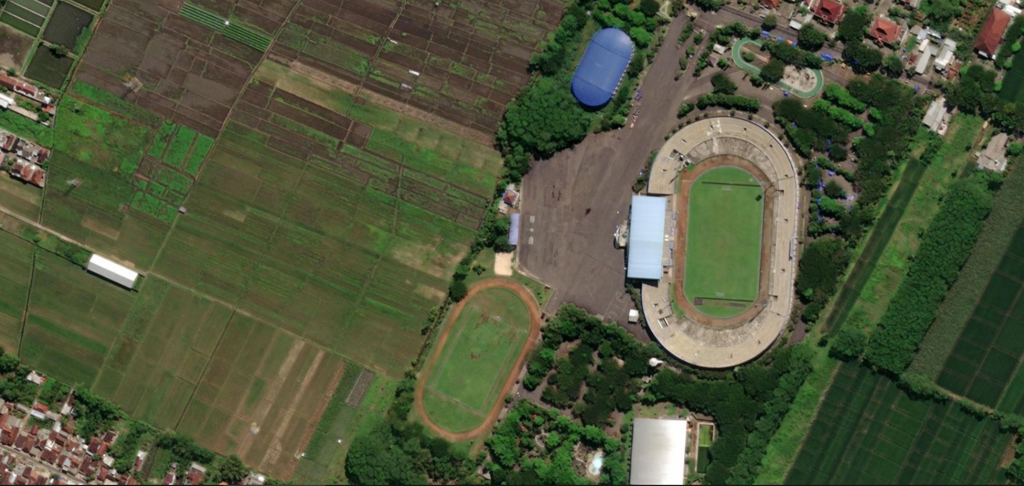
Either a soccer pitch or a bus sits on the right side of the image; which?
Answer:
soccer pitch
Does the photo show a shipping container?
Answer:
No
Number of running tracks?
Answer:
2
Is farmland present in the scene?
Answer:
Yes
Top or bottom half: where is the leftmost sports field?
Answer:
bottom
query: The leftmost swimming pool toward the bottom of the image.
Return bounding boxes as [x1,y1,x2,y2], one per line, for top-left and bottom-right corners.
[585,448,606,479]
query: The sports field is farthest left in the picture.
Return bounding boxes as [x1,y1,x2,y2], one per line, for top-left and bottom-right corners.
[422,288,531,433]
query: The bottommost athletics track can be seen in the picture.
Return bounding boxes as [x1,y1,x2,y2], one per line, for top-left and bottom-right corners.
[416,277,541,442]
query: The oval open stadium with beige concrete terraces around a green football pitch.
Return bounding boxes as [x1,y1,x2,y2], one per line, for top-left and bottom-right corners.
[640,115,801,368]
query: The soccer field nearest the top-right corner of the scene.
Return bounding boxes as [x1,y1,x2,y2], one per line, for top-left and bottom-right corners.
[684,166,763,318]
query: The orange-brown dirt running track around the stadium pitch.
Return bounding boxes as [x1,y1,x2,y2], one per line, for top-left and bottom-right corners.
[670,155,773,331]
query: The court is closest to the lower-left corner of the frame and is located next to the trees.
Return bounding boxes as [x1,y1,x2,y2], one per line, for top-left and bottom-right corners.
[494,252,513,276]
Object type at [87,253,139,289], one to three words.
building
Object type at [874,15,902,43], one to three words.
house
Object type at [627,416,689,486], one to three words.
building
